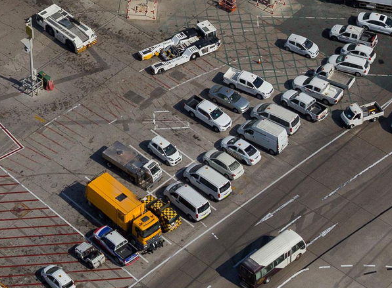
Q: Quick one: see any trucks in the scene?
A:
Yes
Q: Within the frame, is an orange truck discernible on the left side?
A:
Yes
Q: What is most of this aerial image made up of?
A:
paved ground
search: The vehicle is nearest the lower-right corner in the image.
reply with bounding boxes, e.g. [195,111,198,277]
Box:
[236,221,314,288]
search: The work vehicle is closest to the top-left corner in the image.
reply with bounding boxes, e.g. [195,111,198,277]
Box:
[36,0,99,51]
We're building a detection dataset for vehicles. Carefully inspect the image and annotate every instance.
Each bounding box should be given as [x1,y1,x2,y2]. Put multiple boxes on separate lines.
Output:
[146,134,183,165]
[237,119,289,155]
[74,240,106,270]
[200,149,246,180]
[236,221,314,288]
[224,66,275,99]
[309,59,361,92]
[101,134,165,188]
[250,101,302,136]
[89,224,142,268]
[218,135,264,166]
[328,20,380,46]
[184,164,233,203]
[38,265,78,288]
[183,94,232,131]
[36,0,99,51]
[87,168,165,252]
[283,32,319,58]
[138,14,220,74]
[293,73,346,106]
[340,40,377,64]
[325,51,371,79]
[142,192,188,235]
[337,99,388,130]
[163,182,213,222]
[354,9,392,38]
[206,82,252,115]
[279,88,330,122]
